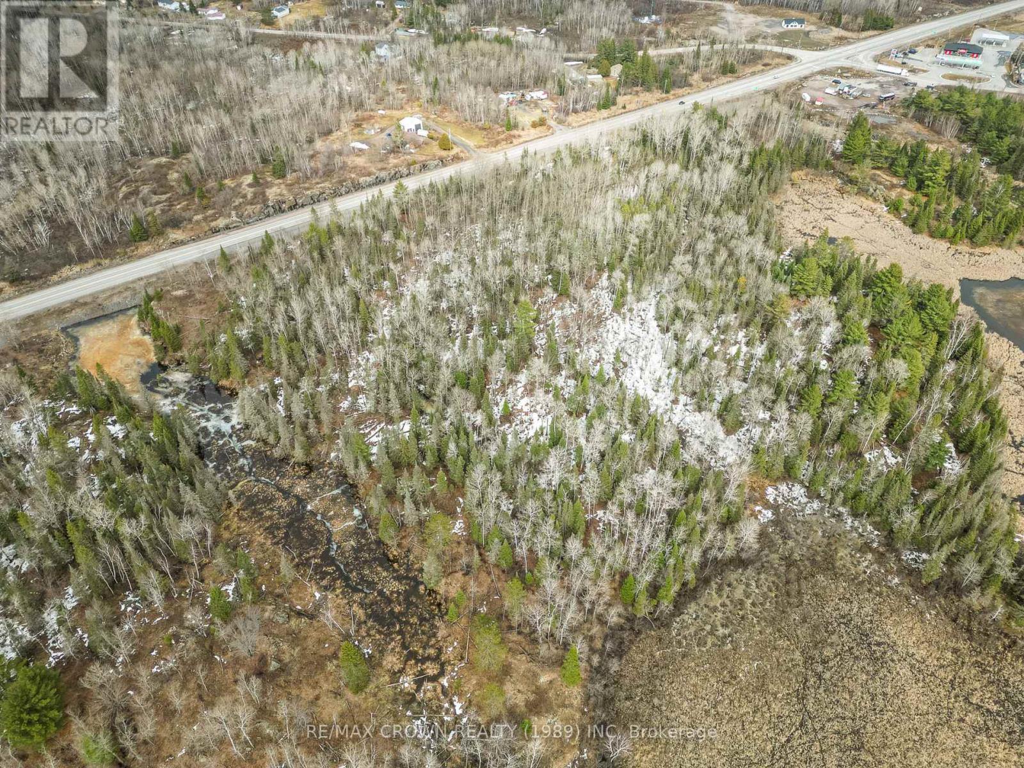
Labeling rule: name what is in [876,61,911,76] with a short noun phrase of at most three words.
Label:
vehicle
